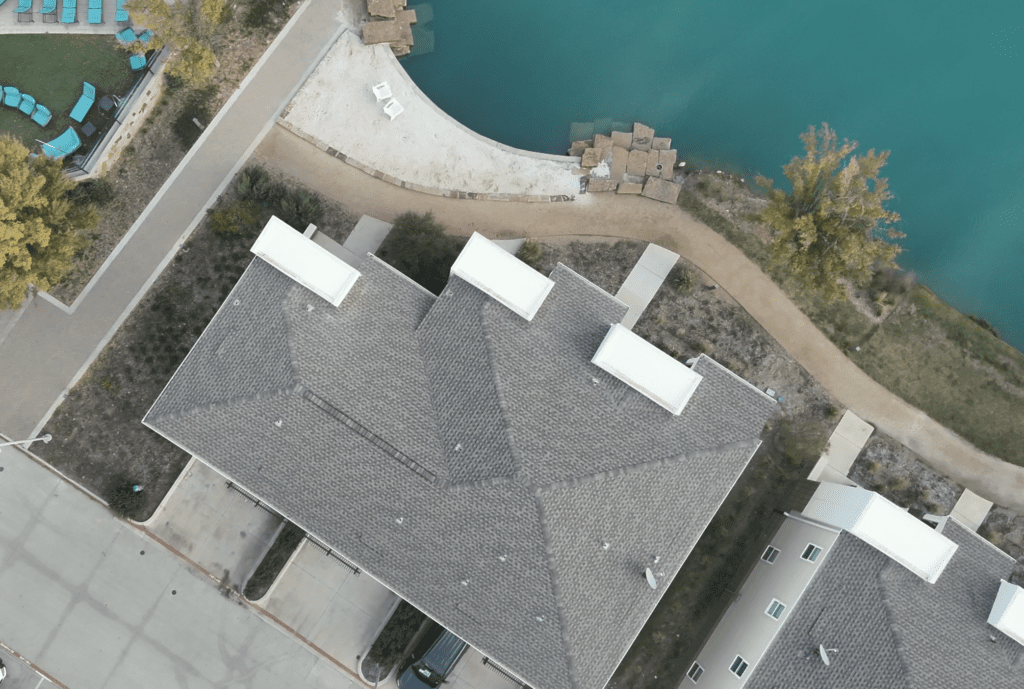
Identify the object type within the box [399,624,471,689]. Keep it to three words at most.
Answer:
car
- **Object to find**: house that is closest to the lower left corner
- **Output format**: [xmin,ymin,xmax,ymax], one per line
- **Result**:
[142,214,776,689]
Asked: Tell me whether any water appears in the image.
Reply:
Yes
